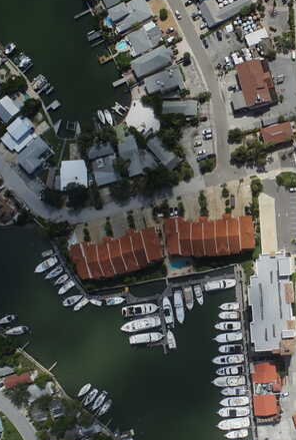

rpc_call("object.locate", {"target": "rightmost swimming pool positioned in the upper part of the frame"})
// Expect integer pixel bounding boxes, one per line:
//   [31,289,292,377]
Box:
[114,38,129,52]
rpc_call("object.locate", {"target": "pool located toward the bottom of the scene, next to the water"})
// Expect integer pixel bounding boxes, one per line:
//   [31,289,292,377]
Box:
[168,259,193,271]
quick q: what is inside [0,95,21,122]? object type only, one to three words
house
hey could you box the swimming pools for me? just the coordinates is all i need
[168,259,193,271]
[103,13,114,28]
[114,38,129,52]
